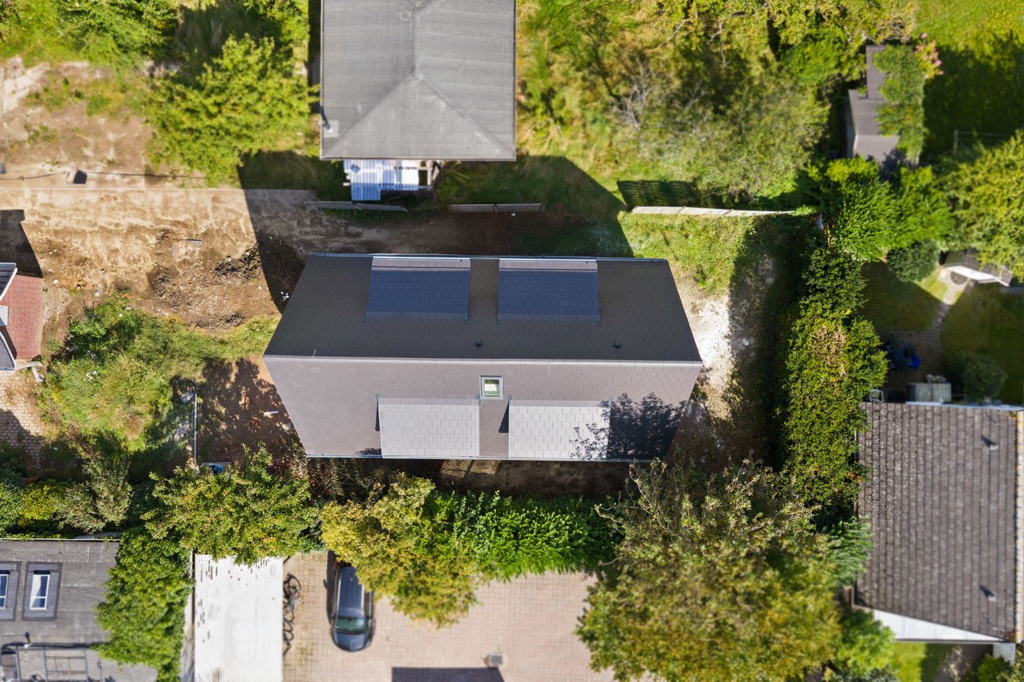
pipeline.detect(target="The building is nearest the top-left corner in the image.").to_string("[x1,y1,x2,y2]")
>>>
[0,262,47,377]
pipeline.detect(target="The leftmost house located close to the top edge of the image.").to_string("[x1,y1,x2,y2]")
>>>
[319,0,519,166]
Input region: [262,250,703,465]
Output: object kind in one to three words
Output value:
house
